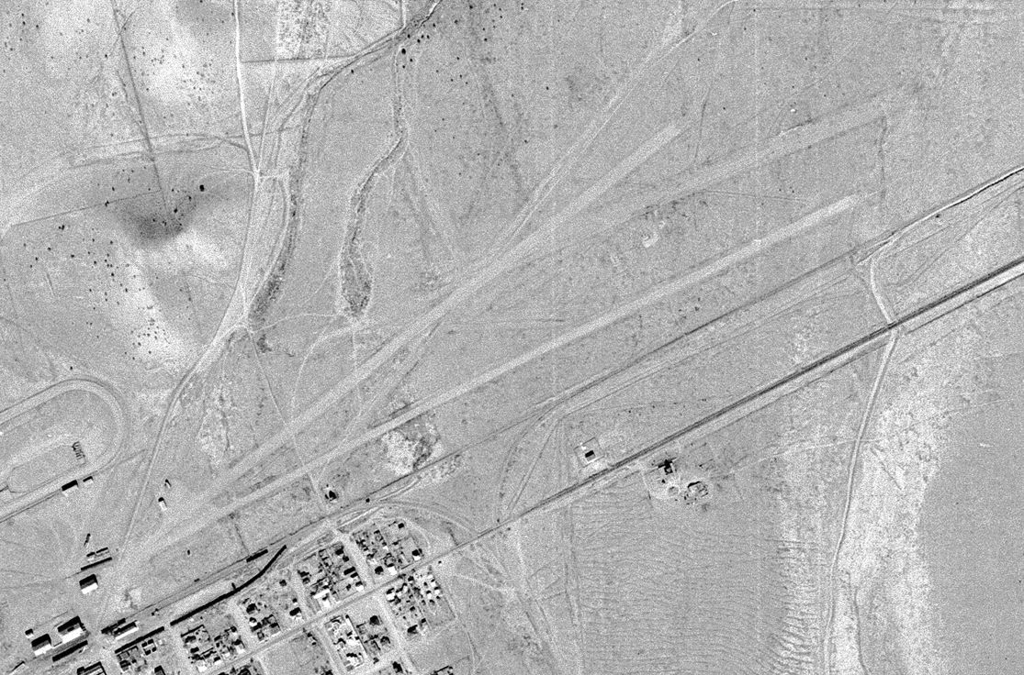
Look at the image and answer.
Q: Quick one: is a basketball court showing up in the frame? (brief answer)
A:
No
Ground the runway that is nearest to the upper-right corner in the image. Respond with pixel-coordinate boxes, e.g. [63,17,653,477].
[511,79,925,269]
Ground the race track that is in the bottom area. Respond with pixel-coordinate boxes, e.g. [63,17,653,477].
[0,376,133,521]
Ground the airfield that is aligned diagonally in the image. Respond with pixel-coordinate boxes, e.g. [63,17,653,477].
[101,79,925,575]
